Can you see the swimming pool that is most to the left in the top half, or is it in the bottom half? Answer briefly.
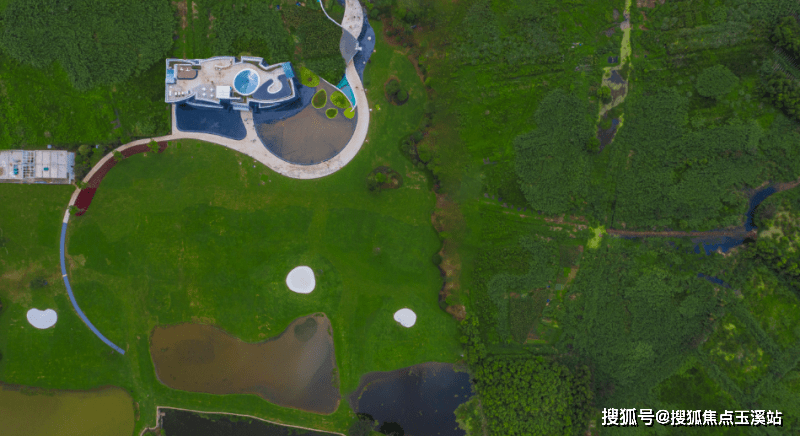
top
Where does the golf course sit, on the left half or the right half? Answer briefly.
left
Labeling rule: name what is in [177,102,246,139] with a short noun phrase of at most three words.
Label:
swimming pool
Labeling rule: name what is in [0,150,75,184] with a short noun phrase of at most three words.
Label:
building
